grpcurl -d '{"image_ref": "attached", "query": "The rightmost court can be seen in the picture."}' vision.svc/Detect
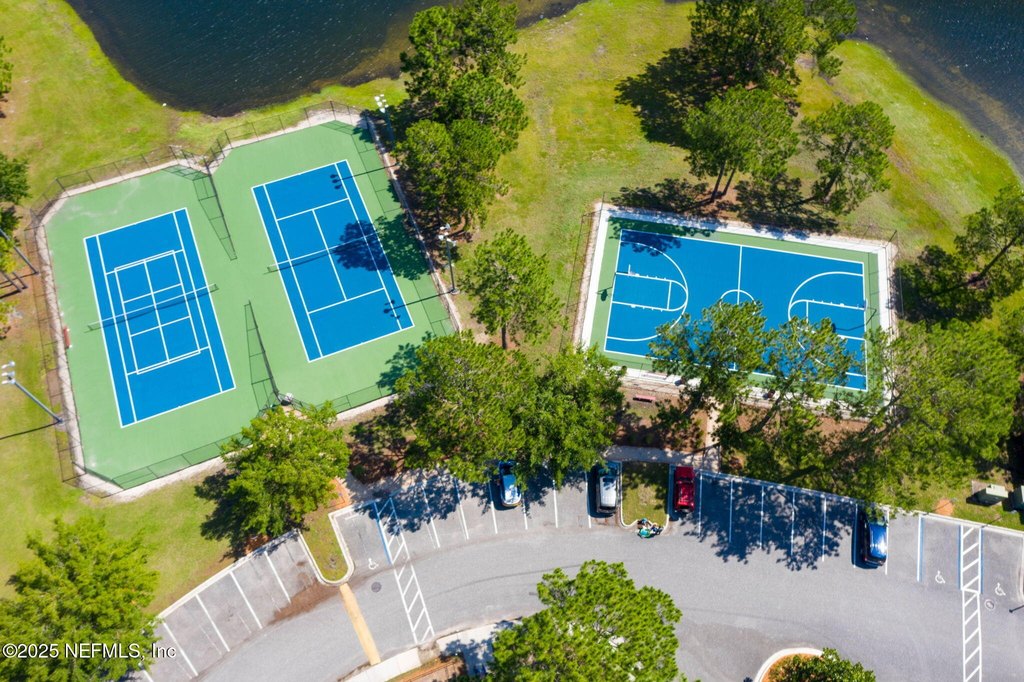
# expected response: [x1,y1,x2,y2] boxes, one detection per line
[576,209,894,421]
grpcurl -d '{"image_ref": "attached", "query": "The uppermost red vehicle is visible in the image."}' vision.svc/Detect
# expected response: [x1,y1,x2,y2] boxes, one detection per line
[673,467,698,518]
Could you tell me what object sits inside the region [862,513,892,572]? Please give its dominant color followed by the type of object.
blue car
